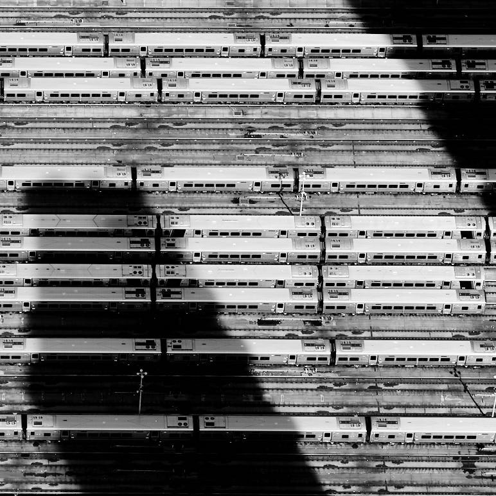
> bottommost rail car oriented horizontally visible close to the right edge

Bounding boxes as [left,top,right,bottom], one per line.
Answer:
[366,415,496,445]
